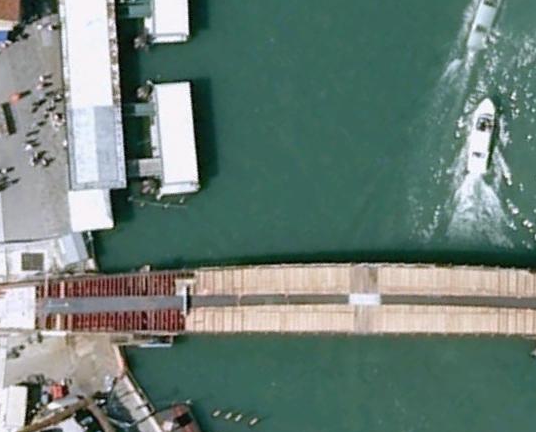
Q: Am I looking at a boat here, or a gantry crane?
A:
boat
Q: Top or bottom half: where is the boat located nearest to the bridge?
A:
top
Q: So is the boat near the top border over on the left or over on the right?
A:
right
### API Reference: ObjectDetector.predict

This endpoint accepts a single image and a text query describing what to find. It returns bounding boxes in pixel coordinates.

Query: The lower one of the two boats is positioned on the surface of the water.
[466,99,495,174]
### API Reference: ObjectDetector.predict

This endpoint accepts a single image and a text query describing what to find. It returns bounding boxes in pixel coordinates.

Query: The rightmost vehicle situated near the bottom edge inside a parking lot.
[77,409,101,432]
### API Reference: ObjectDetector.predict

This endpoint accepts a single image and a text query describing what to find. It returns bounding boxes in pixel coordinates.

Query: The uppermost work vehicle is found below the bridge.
[34,385,59,403]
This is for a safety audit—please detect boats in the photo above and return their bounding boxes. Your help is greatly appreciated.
[466,99,495,174]
[466,0,502,52]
